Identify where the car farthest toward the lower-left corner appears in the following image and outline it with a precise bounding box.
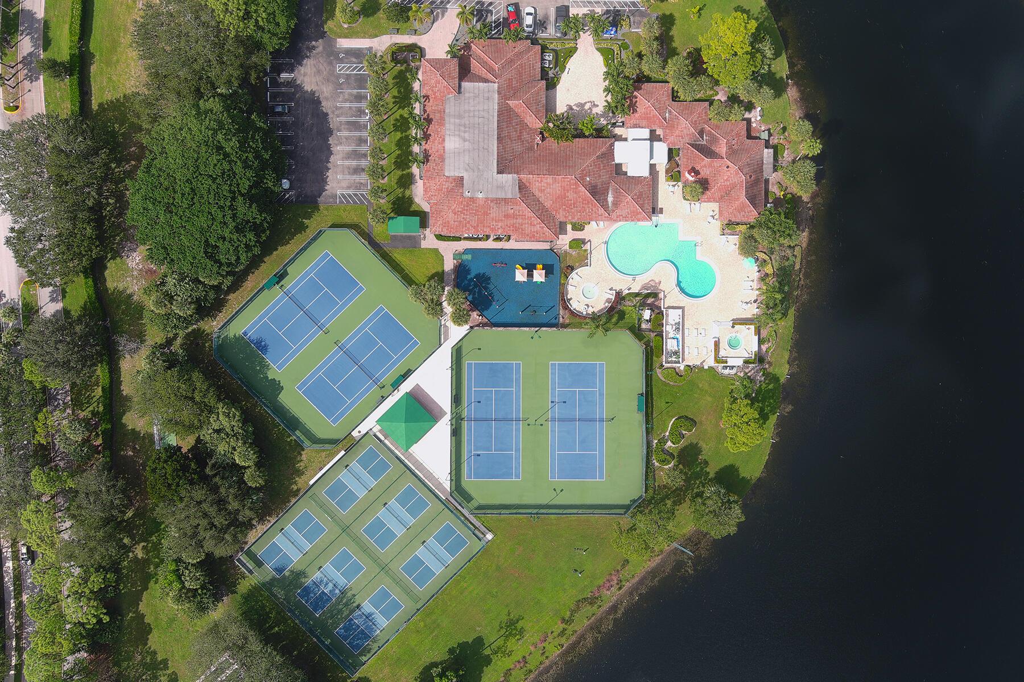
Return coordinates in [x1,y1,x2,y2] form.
[19,542,35,565]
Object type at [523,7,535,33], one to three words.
vehicle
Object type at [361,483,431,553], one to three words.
sports court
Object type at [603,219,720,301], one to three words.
swimming pool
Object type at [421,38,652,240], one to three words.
building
